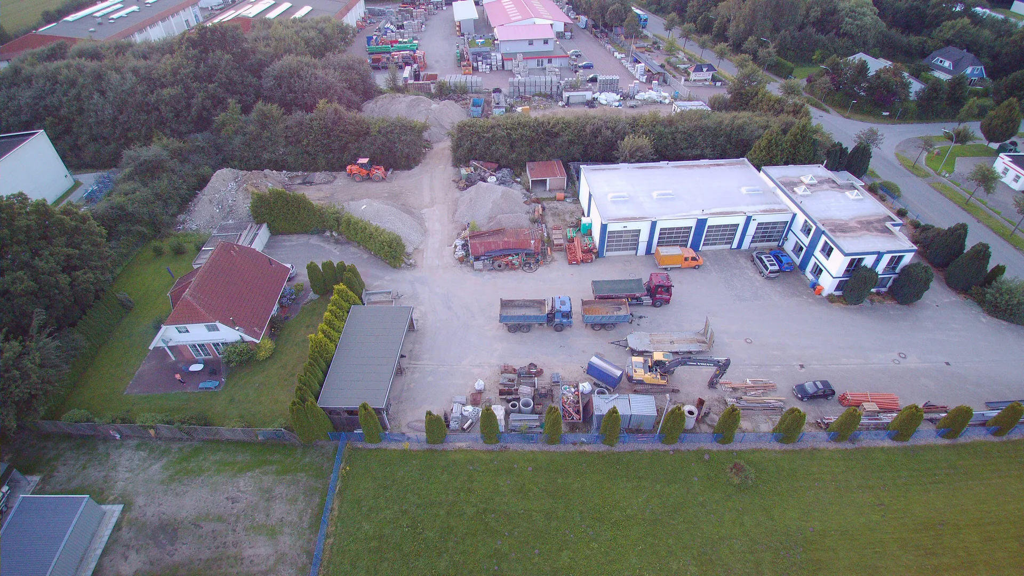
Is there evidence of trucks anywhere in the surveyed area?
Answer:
Yes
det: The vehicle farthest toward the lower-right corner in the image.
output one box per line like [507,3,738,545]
[791,380,839,404]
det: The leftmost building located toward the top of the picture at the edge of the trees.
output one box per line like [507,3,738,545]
[0,130,76,204]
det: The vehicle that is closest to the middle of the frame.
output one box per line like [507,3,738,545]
[500,296,574,331]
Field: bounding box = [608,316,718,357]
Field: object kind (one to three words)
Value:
vehicle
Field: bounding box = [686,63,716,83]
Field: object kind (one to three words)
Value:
building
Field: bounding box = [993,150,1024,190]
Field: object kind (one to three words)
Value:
building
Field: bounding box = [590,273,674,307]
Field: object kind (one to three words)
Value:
truck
